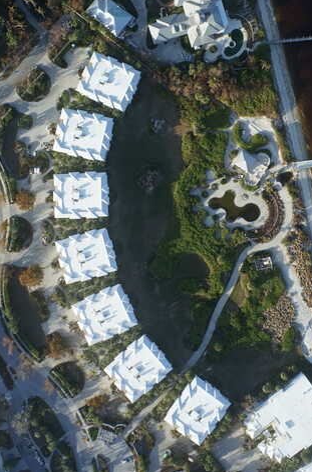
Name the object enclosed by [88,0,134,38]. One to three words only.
house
